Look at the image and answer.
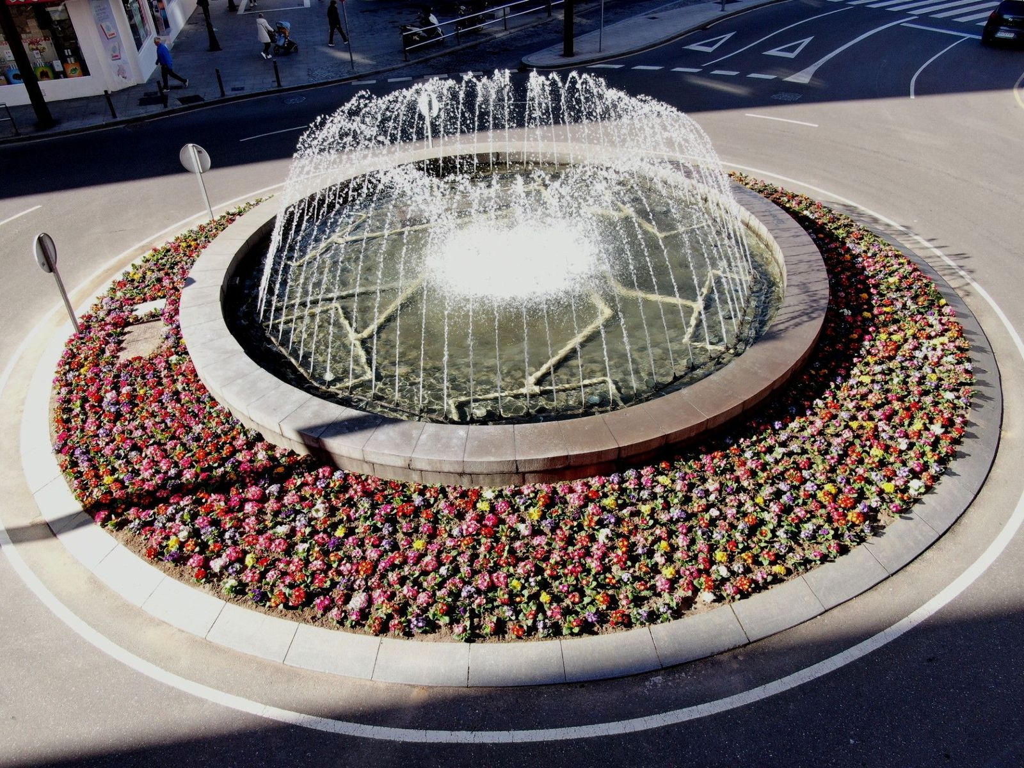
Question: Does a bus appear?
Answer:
No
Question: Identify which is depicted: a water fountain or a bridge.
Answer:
water fountain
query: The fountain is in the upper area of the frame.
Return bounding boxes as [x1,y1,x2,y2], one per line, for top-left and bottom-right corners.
[174,64,837,488]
